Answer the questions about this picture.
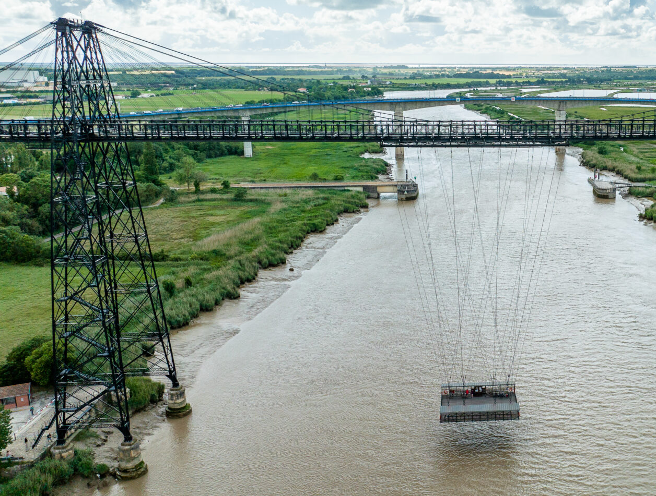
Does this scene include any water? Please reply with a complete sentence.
Yes, there's water in this view.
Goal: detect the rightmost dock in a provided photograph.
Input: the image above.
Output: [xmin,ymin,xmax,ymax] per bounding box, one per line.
[587,174,616,202]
